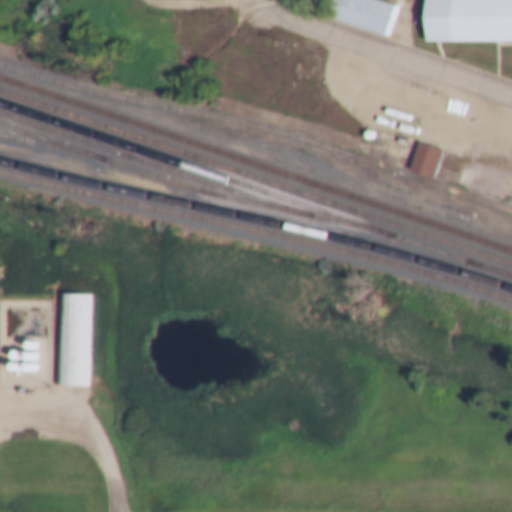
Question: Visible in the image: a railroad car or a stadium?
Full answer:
Of the two, only a railroad car appears.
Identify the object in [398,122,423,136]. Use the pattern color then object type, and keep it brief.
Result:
white vehicle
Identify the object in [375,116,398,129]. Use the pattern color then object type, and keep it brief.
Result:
white vehicle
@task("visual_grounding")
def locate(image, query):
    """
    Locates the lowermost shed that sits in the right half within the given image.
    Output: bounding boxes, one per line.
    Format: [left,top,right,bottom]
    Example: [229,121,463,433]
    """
[410,142,444,178]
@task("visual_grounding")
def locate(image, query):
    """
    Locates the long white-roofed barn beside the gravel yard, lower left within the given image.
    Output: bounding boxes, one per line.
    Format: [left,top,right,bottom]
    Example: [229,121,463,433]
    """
[62,294,94,386]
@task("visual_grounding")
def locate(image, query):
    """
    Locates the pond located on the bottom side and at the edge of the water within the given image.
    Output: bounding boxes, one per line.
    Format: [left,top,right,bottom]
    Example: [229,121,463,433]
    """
[150,316,262,392]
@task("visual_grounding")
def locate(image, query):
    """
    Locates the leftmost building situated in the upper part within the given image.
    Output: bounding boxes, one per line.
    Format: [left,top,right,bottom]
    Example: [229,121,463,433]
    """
[326,0,402,37]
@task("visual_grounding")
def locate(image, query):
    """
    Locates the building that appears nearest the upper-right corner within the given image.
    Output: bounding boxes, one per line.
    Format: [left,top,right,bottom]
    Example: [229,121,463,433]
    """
[424,0,512,43]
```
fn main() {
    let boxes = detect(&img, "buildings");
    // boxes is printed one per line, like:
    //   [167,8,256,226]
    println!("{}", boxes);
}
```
[410,142,444,178]
[326,0,402,37]
[424,0,512,43]
[62,294,94,386]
